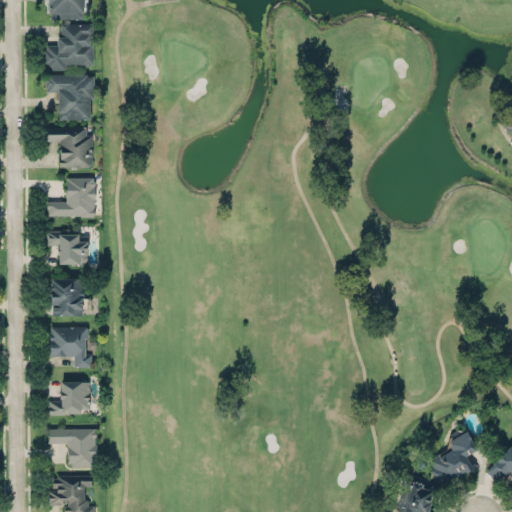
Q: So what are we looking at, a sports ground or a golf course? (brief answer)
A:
golf course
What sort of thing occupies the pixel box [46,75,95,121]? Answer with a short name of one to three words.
house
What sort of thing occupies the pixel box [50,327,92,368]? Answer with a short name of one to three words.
house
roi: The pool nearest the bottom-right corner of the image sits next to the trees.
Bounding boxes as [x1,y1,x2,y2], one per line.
[466,414,483,436]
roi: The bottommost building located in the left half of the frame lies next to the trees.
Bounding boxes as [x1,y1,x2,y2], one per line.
[49,474,96,512]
